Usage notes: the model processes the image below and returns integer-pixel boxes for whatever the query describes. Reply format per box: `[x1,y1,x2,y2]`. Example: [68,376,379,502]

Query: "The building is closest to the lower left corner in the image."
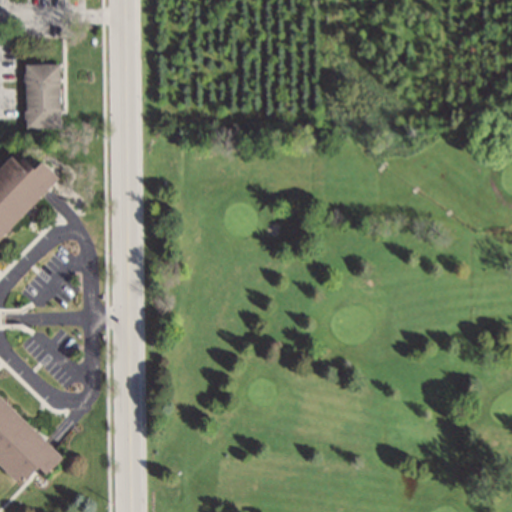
[0,397,63,479]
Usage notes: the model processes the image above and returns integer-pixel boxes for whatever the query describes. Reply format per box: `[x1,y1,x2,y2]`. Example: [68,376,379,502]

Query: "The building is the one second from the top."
[0,162,59,236]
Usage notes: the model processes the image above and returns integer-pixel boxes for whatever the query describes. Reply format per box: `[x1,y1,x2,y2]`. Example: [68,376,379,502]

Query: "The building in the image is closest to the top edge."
[24,64,64,130]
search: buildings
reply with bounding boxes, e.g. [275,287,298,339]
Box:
[0,162,59,236]
[0,397,63,479]
[24,64,64,130]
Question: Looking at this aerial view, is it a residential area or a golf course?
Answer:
golf course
